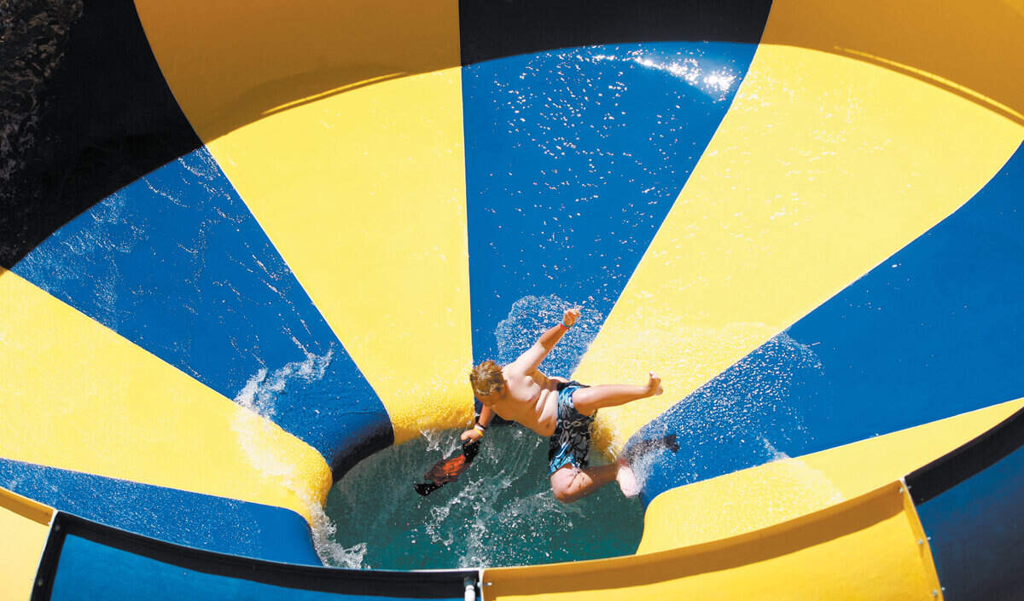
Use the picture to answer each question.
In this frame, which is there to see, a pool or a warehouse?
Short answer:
pool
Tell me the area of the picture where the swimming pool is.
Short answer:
bottom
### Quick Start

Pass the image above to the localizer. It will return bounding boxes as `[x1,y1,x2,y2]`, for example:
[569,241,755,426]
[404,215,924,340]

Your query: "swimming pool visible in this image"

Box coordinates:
[313,429,644,568]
